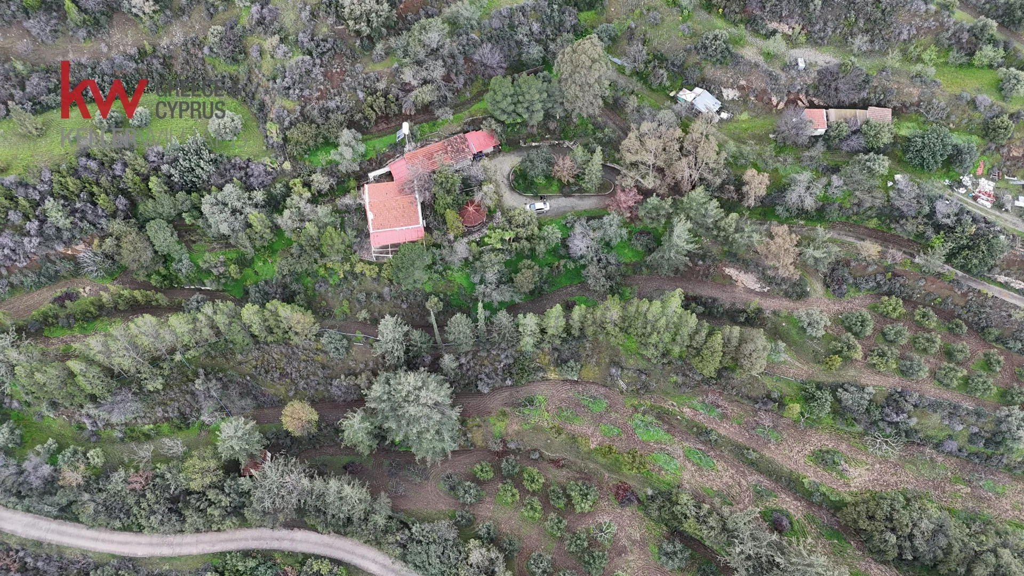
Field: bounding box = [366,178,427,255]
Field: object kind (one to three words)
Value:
house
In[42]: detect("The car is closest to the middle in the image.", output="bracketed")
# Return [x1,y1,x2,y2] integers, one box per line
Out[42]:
[527,199,550,211]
